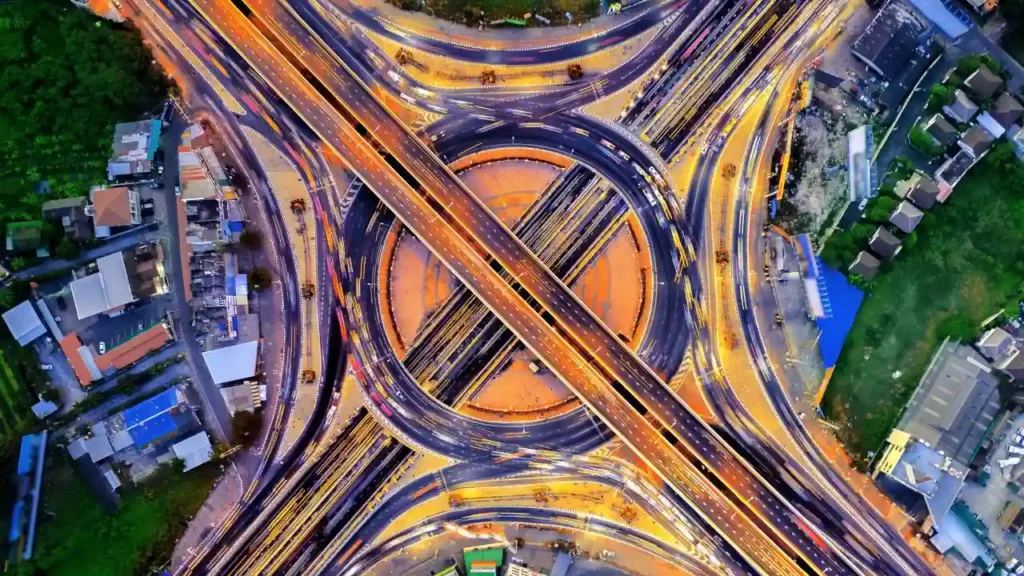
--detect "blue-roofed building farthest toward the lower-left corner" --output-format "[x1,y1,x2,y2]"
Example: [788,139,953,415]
[9,497,30,541]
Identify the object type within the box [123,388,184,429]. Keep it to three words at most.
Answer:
shed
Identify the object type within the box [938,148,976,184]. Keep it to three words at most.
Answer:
house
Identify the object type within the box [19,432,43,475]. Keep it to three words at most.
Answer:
building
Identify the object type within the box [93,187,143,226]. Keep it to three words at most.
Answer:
house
